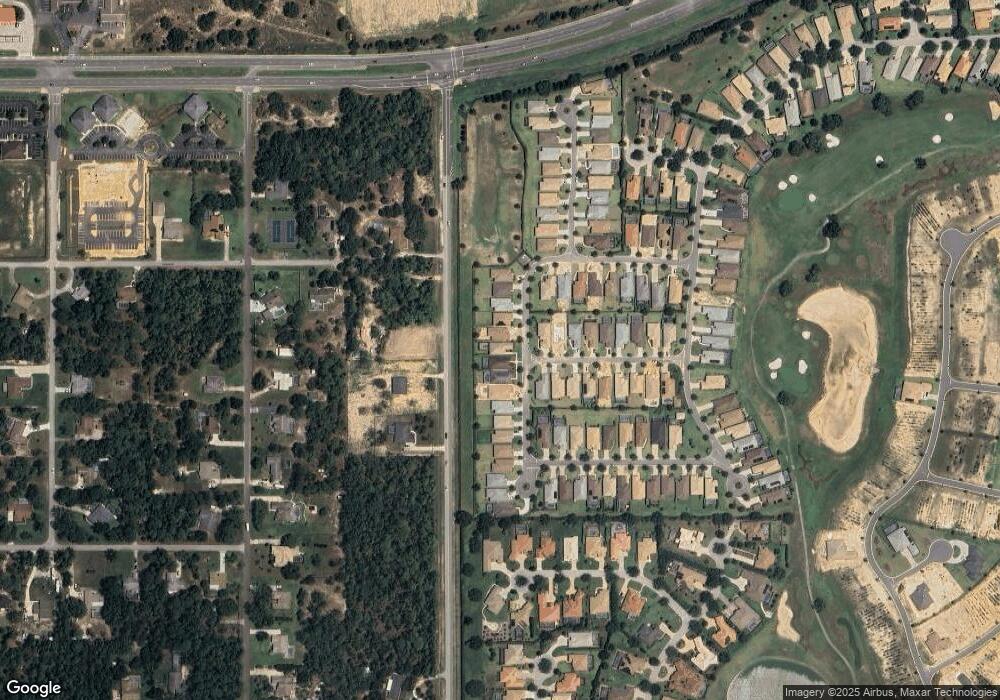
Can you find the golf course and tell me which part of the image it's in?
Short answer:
right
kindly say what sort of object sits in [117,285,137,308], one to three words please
house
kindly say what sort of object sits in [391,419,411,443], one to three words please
house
